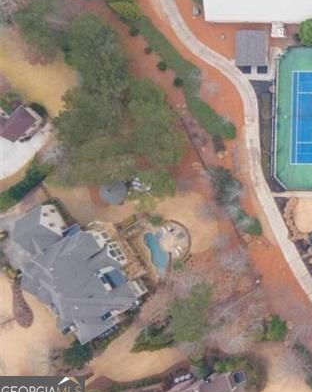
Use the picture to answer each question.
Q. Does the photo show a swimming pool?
Yes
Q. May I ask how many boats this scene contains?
none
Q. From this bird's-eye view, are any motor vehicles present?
No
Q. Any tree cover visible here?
Yes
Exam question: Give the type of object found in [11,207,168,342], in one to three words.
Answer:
house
